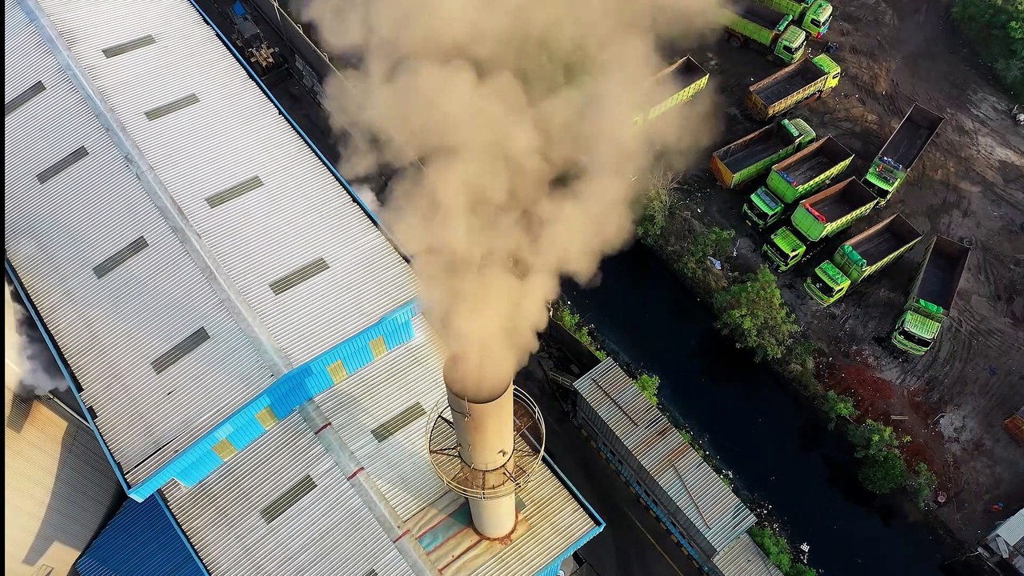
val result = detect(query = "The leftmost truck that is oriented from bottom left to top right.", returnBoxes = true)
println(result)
[609,55,709,137]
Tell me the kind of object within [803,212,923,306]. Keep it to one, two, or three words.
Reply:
truck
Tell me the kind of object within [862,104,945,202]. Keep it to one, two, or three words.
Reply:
truck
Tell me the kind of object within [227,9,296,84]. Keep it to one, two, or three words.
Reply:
work vehicle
